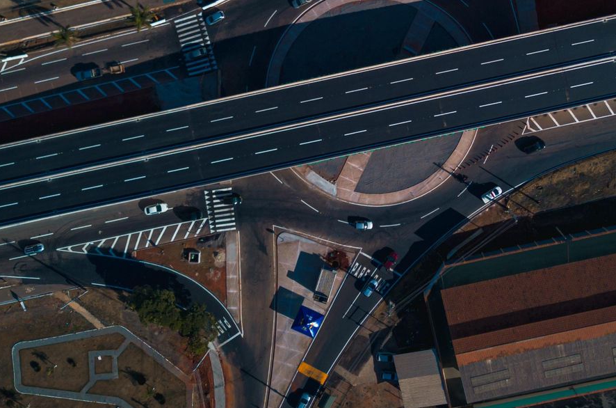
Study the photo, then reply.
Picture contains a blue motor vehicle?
Yes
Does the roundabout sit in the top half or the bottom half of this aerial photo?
top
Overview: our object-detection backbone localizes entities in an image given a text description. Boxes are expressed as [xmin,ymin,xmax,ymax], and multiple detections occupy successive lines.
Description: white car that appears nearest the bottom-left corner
[143,202,169,217]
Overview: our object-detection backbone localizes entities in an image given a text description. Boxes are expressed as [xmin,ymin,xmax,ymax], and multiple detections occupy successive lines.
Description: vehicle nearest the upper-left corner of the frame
[76,66,103,81]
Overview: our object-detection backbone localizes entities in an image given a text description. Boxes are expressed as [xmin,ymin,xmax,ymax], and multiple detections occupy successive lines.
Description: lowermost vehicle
[296,392,313,408]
